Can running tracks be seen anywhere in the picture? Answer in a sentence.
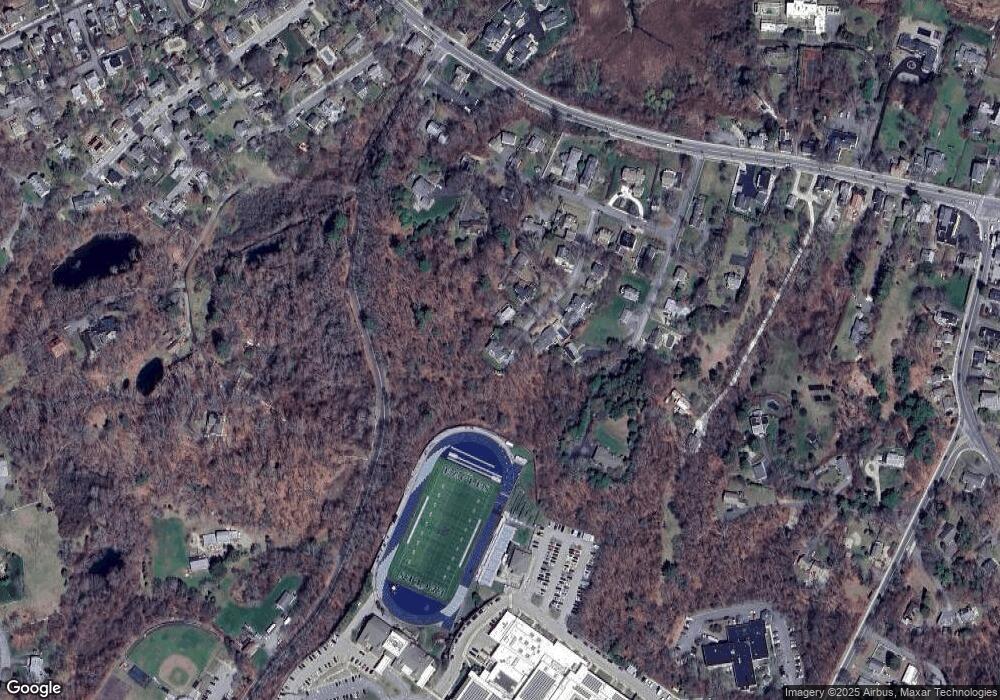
Yes, I can see a running track in this picture.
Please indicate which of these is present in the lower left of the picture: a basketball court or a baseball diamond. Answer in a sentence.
You can see a baseball diamond in the lower left of the picture.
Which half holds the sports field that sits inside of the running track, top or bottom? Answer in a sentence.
The sports field that sits inside of the running track sits in the bottom half of the picture.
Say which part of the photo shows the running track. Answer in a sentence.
The running track is in the bottom part of the image.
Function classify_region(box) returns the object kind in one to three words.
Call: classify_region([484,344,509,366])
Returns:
house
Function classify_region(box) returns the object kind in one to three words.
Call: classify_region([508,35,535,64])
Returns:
house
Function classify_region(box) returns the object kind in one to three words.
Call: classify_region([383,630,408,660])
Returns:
building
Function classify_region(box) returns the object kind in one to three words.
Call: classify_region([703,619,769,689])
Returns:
building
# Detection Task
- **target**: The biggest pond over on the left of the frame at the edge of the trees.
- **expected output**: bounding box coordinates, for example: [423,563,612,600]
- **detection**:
[51,232,142,289]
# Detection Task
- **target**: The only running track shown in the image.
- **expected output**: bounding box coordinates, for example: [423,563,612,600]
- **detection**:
[367,429,521,628]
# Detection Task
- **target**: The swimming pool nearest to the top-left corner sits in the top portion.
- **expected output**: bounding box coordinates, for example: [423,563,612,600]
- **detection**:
[164,38,187,52]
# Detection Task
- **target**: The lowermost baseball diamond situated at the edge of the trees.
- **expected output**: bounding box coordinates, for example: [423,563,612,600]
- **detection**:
[126,621,222,692]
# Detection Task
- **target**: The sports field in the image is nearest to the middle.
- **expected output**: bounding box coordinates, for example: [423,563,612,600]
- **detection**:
[390,461,499,600]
